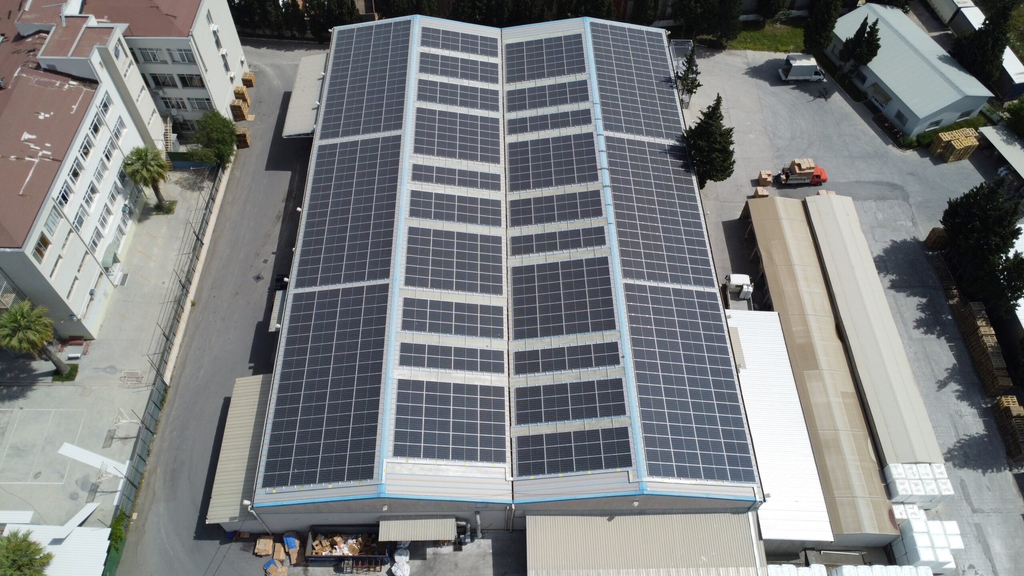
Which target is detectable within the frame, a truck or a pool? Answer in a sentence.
Visible in the photo is a truck.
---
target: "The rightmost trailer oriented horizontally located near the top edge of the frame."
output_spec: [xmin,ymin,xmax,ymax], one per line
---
[901,0,969,29]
